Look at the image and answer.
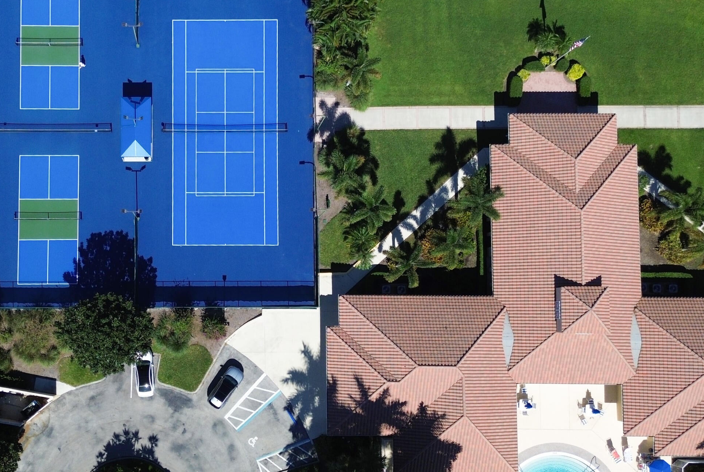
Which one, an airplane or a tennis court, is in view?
tennis court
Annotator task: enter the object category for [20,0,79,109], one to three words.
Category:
sports court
